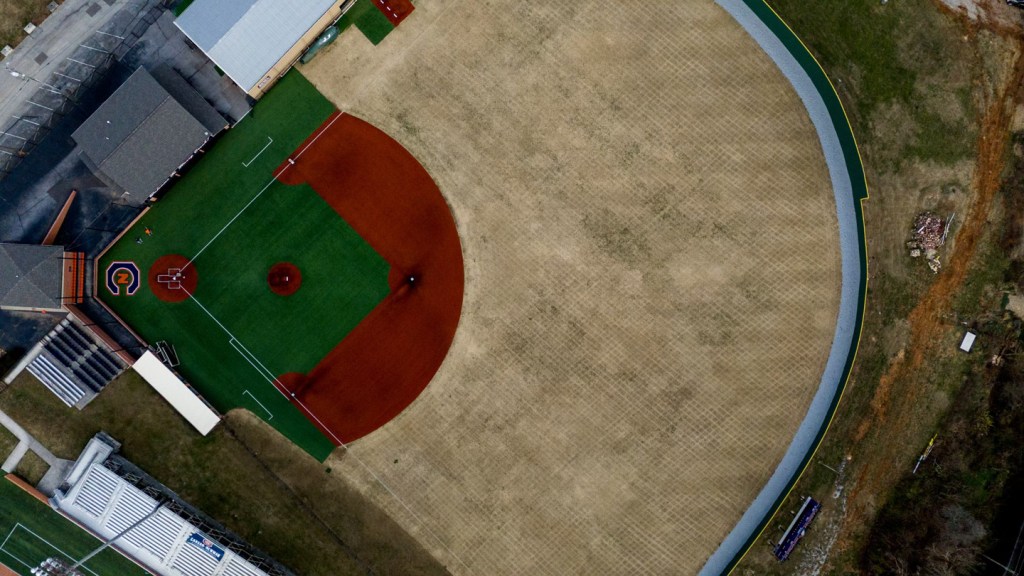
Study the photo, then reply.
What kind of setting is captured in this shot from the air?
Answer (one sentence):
This image shows a sports ground.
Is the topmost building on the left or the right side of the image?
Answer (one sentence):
It is on the left.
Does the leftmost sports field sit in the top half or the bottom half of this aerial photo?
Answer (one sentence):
The leftmost sports field is in the bottom half of the image.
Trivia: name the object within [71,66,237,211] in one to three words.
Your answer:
building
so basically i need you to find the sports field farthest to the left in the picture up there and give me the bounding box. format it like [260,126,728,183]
[0,472,152,576]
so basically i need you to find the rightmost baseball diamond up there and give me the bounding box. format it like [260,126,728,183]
[99,0,860,576]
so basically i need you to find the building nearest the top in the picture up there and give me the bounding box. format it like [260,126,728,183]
[171,0,359,98]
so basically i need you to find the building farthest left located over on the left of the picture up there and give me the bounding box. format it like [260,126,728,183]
[0,244,78,315]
